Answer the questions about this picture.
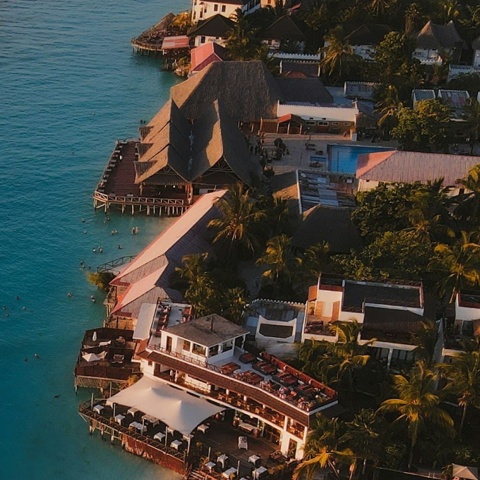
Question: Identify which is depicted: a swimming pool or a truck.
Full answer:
Looking from above, you can make out a swimming pool.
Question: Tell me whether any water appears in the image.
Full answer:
Yes, there's water in this view.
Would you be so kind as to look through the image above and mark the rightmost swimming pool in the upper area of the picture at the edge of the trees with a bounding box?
[327,144,399,175]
